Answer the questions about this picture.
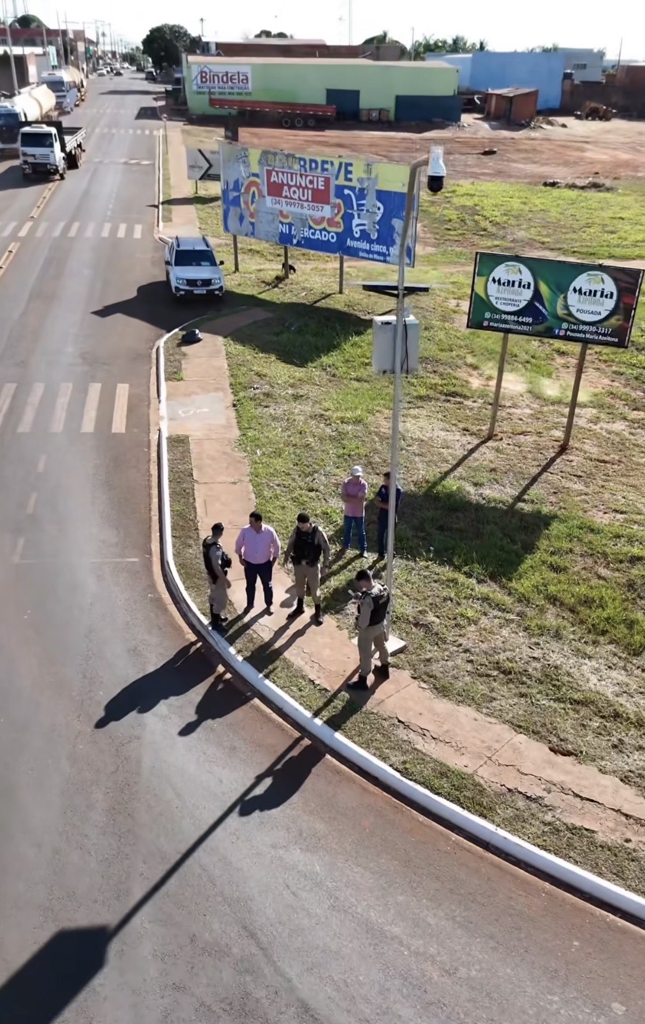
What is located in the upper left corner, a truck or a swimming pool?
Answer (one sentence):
What appears in the upper left corner is a truck.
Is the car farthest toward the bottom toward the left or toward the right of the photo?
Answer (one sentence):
The car farthest toward the bottom is on the left side of the image.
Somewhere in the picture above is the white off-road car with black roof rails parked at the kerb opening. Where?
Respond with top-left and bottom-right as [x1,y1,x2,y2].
[157,229,226,299]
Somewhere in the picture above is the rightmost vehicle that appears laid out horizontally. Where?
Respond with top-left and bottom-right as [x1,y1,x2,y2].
[558,95,628,121]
